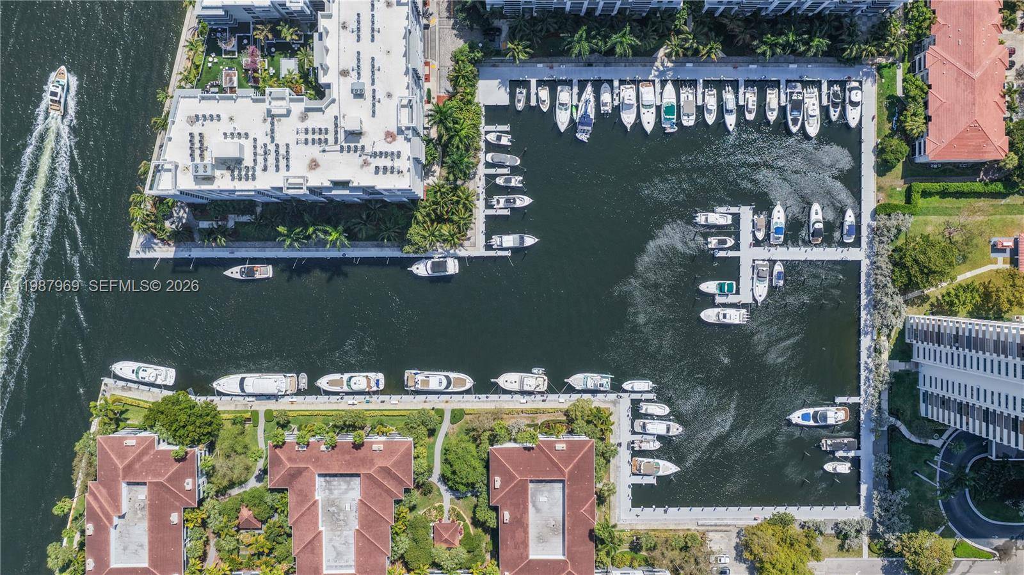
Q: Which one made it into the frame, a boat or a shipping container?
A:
boat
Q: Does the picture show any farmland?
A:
No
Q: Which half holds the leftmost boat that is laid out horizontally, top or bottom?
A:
bottom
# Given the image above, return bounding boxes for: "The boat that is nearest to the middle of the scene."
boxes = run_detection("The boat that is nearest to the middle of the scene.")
[491,234,540,249]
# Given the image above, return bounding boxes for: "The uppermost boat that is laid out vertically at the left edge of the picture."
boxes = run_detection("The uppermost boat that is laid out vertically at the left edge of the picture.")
[50,66,68,119]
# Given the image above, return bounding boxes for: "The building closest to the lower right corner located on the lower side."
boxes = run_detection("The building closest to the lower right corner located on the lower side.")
[906,315,1024,450]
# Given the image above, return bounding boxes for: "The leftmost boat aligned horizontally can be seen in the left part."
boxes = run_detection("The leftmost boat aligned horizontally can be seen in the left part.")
[110,363,177,385]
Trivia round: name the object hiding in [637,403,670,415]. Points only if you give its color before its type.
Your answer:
white boat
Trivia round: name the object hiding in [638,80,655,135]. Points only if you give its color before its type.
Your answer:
white boat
